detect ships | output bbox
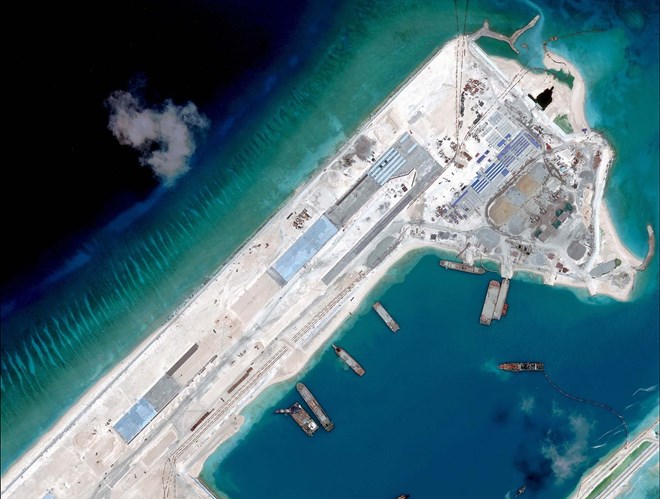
[276,404,320,435]
[498,362,544,372]
[439,259,486,275]
[333,346,365,377]
[480,280,500,326]
[298,384,334,432]
[493,279,509,320]
[373,301,400,333]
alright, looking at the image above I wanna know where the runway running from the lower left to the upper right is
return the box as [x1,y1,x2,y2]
[113,173,382,445]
